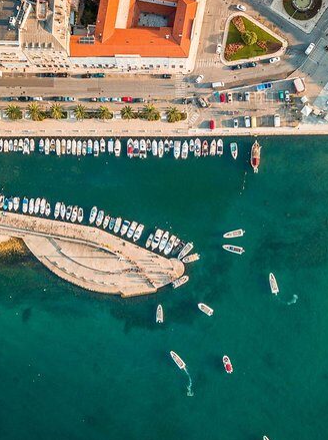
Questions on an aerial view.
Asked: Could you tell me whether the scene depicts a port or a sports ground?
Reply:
port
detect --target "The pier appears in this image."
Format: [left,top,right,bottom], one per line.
[0,210,185,297]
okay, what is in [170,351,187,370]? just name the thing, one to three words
boat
